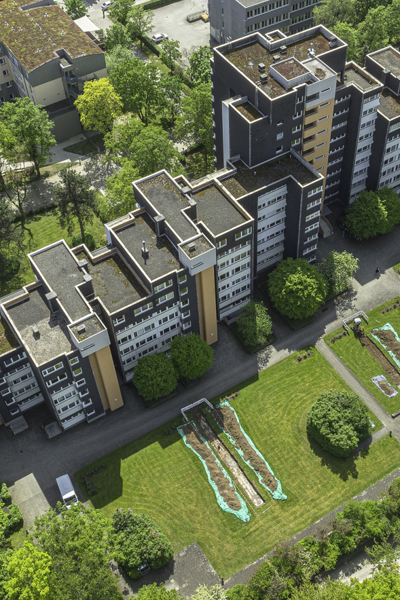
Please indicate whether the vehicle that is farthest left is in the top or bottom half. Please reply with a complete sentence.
The bottom half of the photo is where the vehicle that is farthest left is.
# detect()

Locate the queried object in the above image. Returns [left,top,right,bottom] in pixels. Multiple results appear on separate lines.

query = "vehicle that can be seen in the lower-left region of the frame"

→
[52,468,75,506]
